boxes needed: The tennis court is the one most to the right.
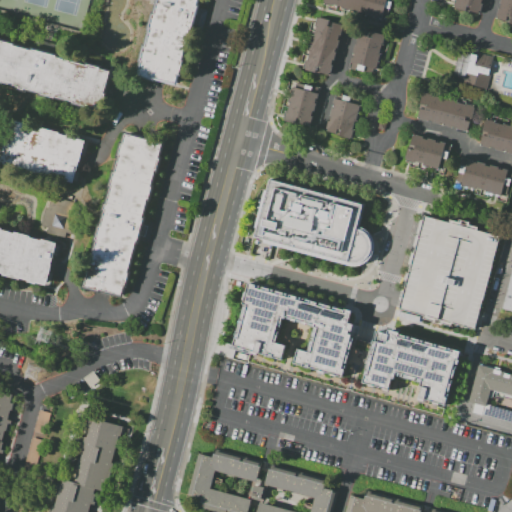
[46,0,91,30]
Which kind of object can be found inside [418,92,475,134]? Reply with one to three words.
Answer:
house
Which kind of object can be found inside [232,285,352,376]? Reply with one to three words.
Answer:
building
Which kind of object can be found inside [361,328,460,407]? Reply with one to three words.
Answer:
building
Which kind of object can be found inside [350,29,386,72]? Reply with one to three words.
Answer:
house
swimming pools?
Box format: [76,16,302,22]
[491,61,512,98]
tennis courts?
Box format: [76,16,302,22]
[46,0,91,30]
[0,0,50,20]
